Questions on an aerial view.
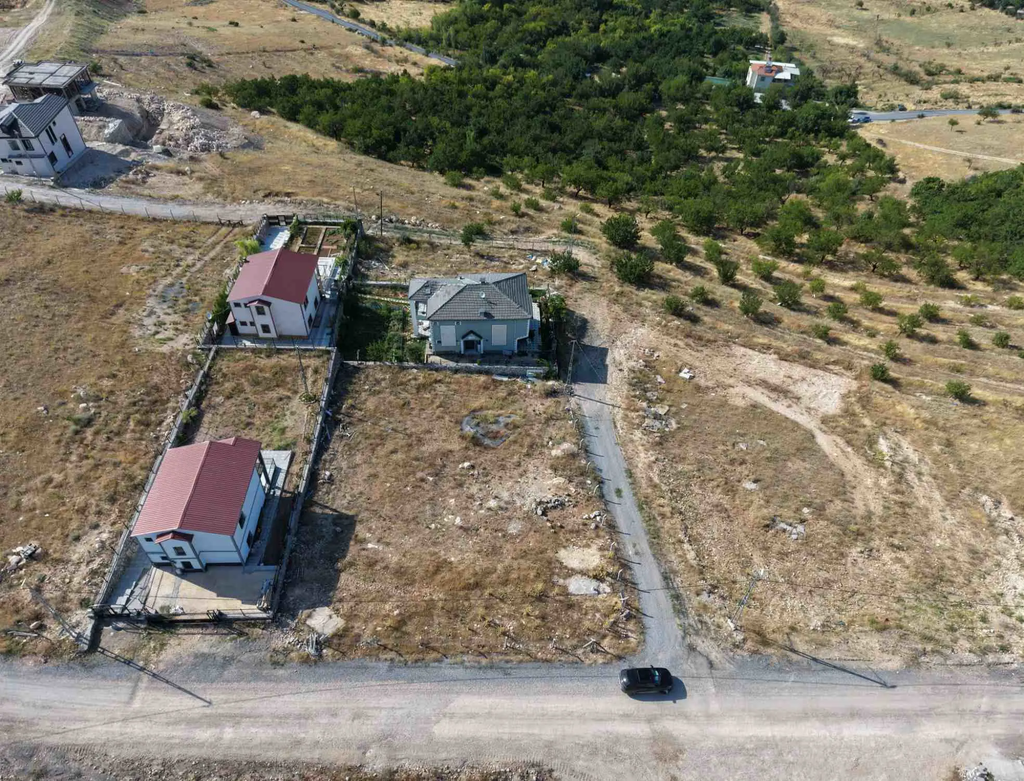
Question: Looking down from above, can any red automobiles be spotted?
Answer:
No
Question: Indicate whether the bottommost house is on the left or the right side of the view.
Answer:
left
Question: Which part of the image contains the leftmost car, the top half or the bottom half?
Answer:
bottom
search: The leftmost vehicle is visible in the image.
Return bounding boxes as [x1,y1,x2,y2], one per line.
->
[619,667,674,697]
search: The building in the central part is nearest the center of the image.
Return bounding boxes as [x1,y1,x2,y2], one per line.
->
[408,271,533,359]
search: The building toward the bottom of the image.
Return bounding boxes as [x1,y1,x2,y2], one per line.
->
[127,437,273,571]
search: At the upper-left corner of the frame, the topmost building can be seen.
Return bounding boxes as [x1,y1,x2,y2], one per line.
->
[1,61,115,126]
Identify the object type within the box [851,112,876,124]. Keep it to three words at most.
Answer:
vehicle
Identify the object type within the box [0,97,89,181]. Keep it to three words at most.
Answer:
house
